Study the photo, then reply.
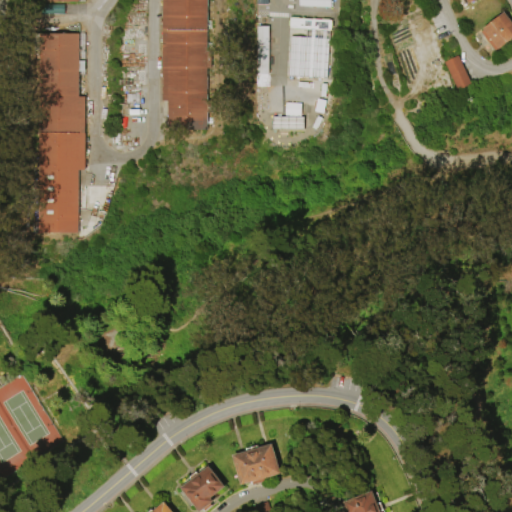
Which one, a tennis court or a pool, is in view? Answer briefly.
tennis court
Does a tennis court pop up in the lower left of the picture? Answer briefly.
Yes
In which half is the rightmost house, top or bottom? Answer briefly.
top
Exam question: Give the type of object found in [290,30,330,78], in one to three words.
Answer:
greenhouse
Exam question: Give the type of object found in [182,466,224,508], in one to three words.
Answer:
house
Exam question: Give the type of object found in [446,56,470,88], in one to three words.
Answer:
barn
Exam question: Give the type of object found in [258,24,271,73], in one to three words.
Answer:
building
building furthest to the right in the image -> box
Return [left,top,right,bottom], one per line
[482,13,512,48]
